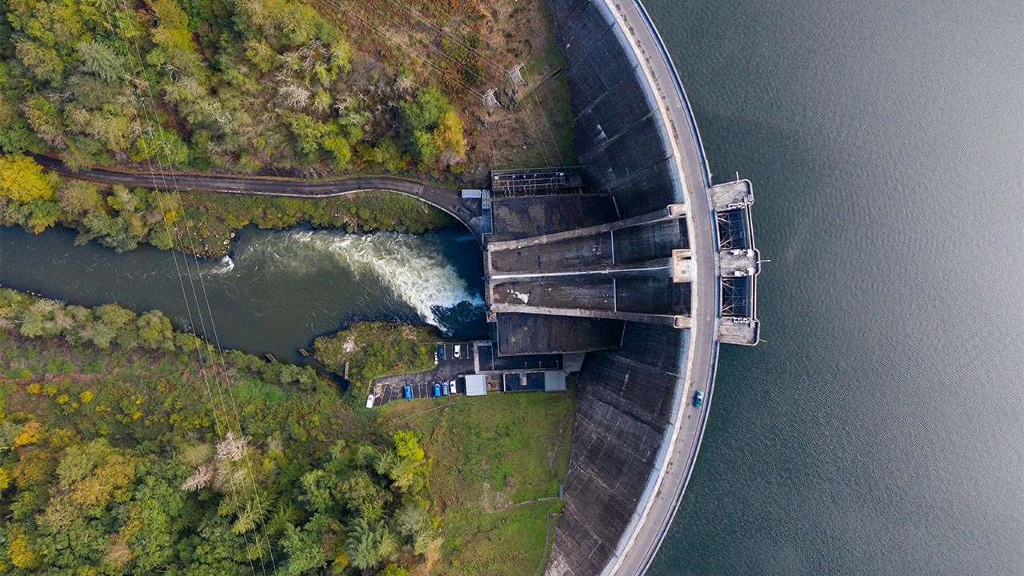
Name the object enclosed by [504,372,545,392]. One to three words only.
building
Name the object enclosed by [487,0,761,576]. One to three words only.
dam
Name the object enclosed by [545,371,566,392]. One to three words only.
shed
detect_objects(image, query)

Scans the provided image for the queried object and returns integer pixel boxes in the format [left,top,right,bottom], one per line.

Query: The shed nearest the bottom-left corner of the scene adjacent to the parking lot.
[466,374,487,396]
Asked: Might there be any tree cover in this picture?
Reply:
Yes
